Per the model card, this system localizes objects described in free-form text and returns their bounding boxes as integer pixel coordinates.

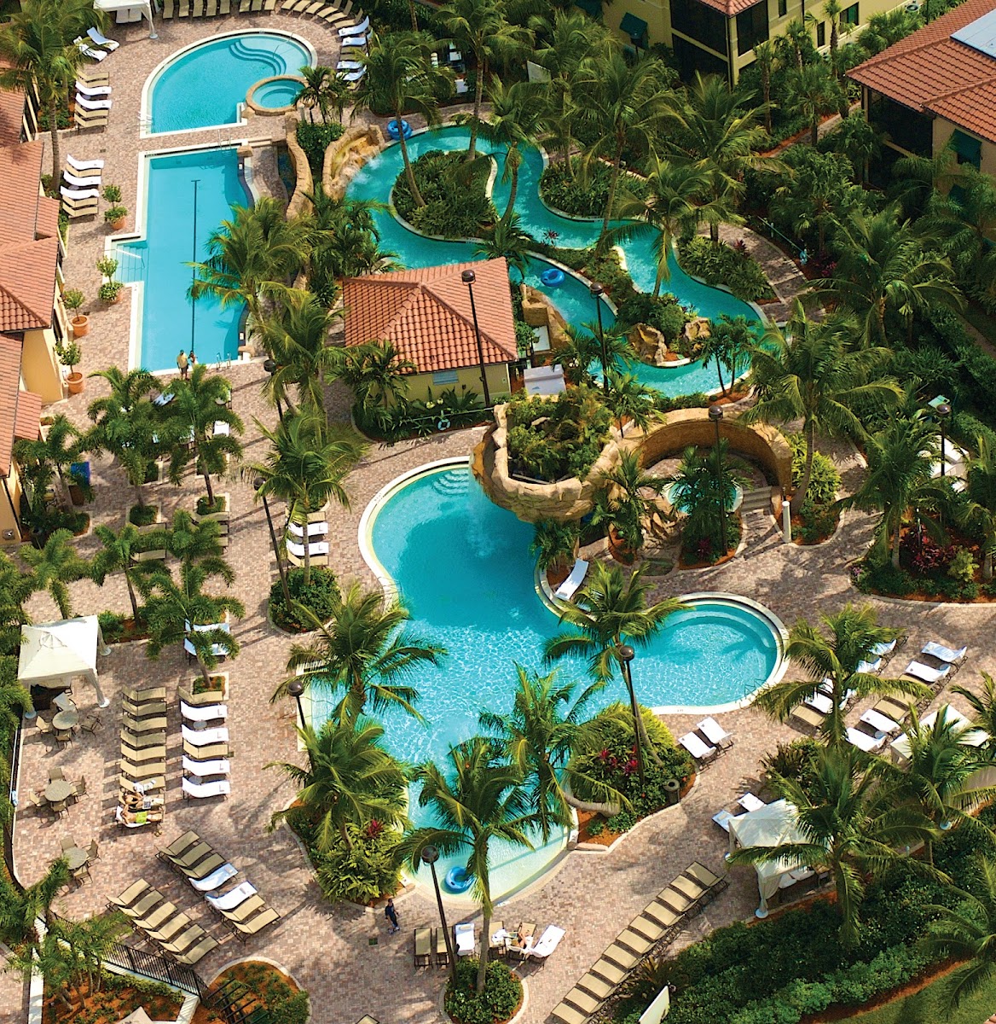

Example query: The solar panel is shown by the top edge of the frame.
[950,10,996,61]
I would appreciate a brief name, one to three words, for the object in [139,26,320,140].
swimming pool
